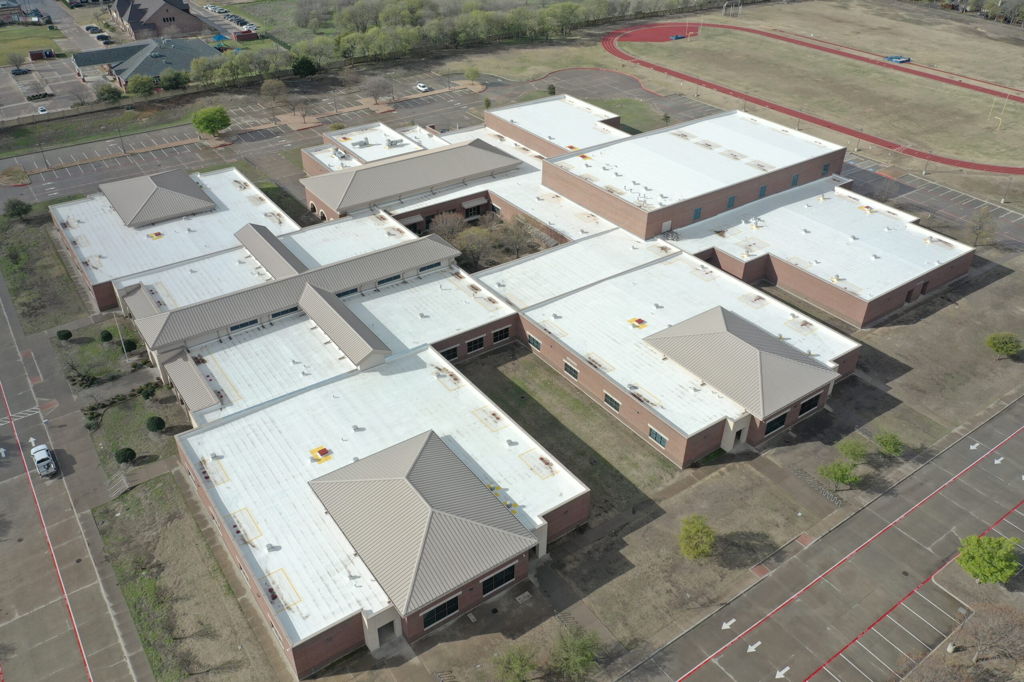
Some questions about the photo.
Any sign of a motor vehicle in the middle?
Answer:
No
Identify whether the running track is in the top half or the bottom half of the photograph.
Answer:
top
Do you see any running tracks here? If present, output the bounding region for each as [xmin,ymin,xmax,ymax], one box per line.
[598,22,1024,172]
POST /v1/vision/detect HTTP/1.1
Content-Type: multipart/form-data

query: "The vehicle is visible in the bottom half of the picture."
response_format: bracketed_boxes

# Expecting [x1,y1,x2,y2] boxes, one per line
[28,442,55,475]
